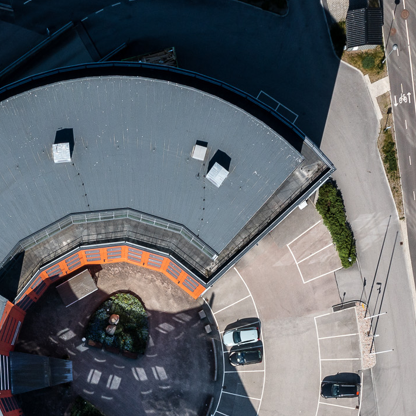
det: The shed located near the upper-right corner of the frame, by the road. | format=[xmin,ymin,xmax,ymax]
[343,7,382,55]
